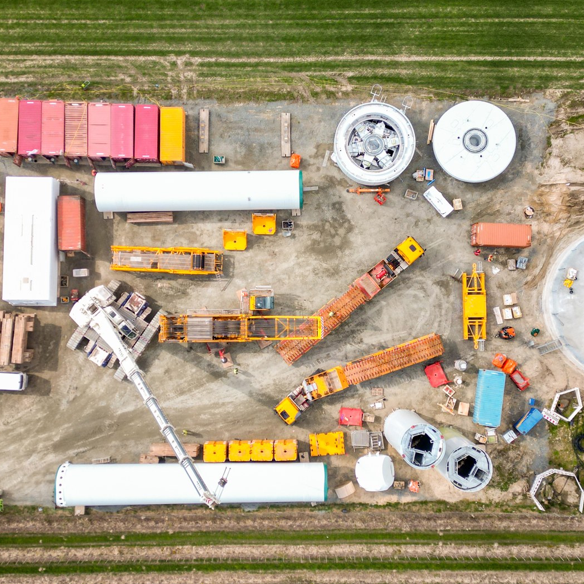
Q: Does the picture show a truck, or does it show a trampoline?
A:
truck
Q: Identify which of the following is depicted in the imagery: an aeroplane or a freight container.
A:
freight container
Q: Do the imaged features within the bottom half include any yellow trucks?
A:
Yes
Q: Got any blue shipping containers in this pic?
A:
Yes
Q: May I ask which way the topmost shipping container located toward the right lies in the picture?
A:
horizontally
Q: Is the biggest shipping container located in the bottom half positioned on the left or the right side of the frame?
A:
right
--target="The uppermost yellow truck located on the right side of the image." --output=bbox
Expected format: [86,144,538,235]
[380,233,426,287]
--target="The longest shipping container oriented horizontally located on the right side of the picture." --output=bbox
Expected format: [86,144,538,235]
[471,223,532,249]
